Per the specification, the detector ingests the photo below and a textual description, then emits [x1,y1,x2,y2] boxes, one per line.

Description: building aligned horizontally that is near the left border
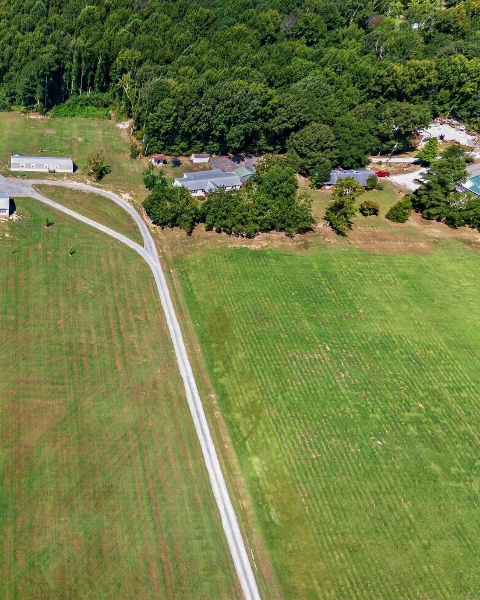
[10,156,73,176]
